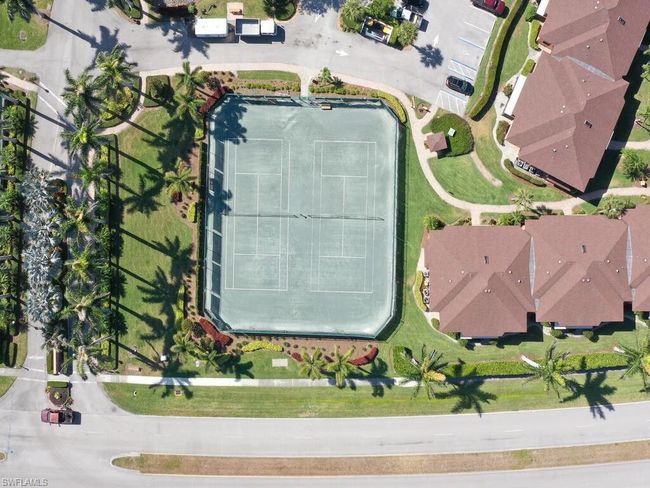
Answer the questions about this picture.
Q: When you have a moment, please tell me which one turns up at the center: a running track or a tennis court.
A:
tennis court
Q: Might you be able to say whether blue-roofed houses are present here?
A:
No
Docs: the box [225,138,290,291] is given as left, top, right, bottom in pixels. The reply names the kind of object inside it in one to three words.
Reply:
tennis court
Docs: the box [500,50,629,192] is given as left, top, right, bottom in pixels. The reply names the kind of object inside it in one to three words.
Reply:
house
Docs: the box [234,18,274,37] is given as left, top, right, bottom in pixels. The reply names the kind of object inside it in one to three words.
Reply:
vehicle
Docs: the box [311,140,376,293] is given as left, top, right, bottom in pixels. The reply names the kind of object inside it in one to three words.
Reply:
tennis court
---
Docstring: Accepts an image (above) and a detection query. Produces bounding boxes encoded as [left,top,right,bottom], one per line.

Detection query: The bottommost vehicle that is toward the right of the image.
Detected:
[445,74,475,96]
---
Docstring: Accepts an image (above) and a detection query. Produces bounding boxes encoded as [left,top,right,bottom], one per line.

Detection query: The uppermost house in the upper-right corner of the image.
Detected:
[529,0,650,81]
